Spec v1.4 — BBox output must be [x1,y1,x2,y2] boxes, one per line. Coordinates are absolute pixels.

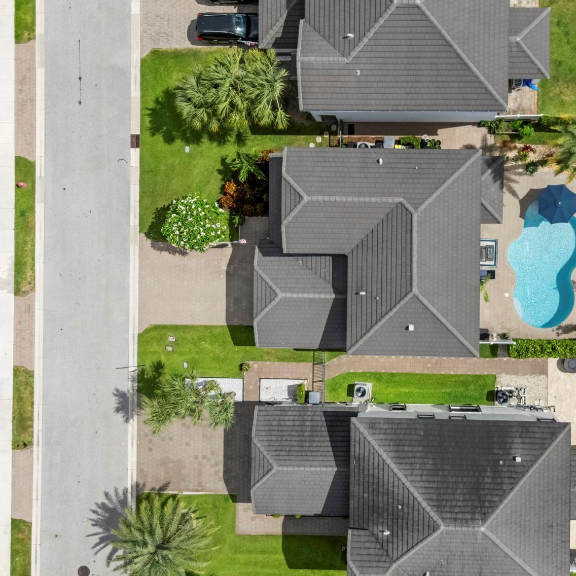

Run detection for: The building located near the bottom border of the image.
[249,402,576,576]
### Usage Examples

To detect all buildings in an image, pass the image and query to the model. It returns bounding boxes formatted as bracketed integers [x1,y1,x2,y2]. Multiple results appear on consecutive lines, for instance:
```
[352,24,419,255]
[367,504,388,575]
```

[250,146,505,359]
[249,402,576,576]
[258,0,553,125]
